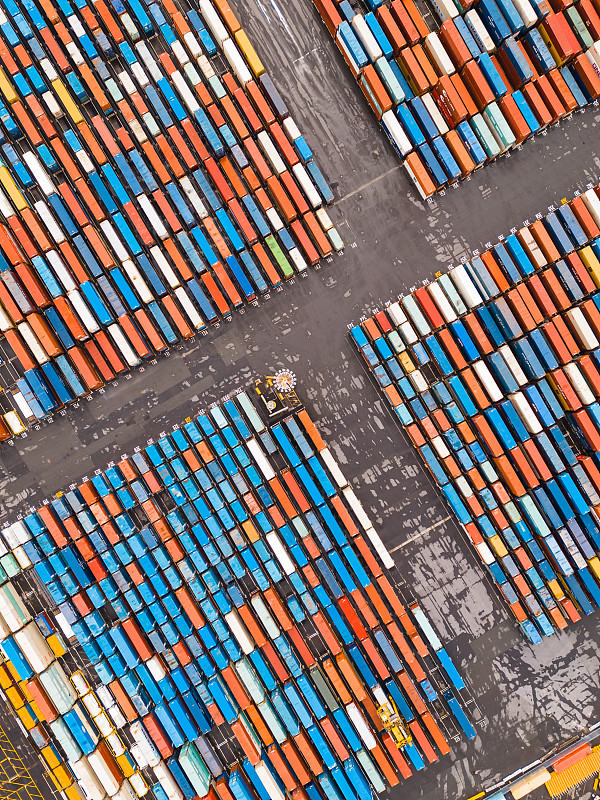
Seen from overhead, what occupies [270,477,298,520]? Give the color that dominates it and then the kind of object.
orange shipping container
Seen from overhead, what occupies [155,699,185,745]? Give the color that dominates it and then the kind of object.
blue shipping container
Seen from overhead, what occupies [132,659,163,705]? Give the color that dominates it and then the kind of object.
blue shipping container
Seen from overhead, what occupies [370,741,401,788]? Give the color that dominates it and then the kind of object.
orange shipping container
